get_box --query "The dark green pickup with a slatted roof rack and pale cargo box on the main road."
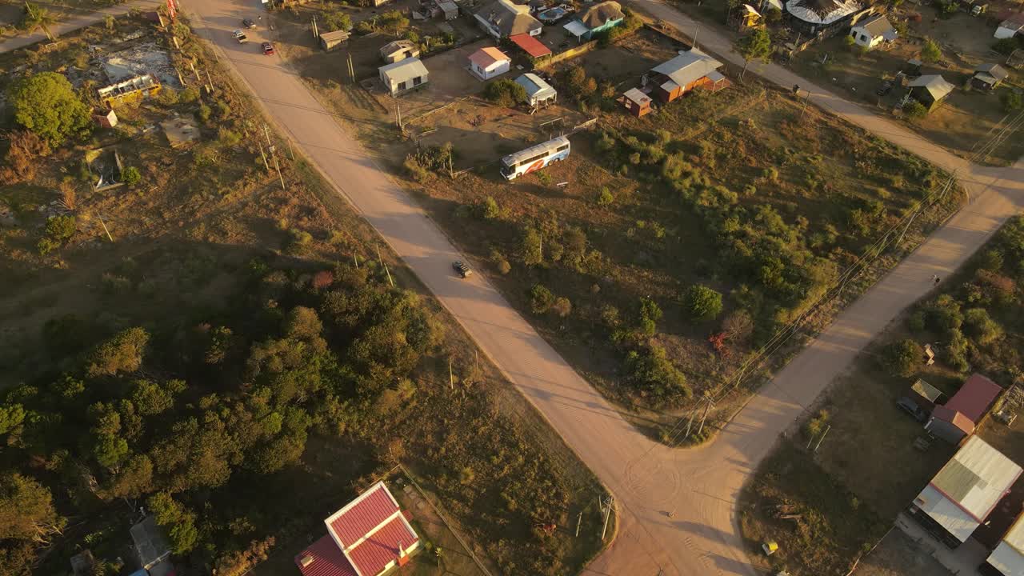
[451,258,475,279]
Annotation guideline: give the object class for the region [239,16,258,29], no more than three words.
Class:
vehicle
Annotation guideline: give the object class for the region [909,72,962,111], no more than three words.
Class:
shed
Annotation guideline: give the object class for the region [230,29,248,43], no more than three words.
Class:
vehicle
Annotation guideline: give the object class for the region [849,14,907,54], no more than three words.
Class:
house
